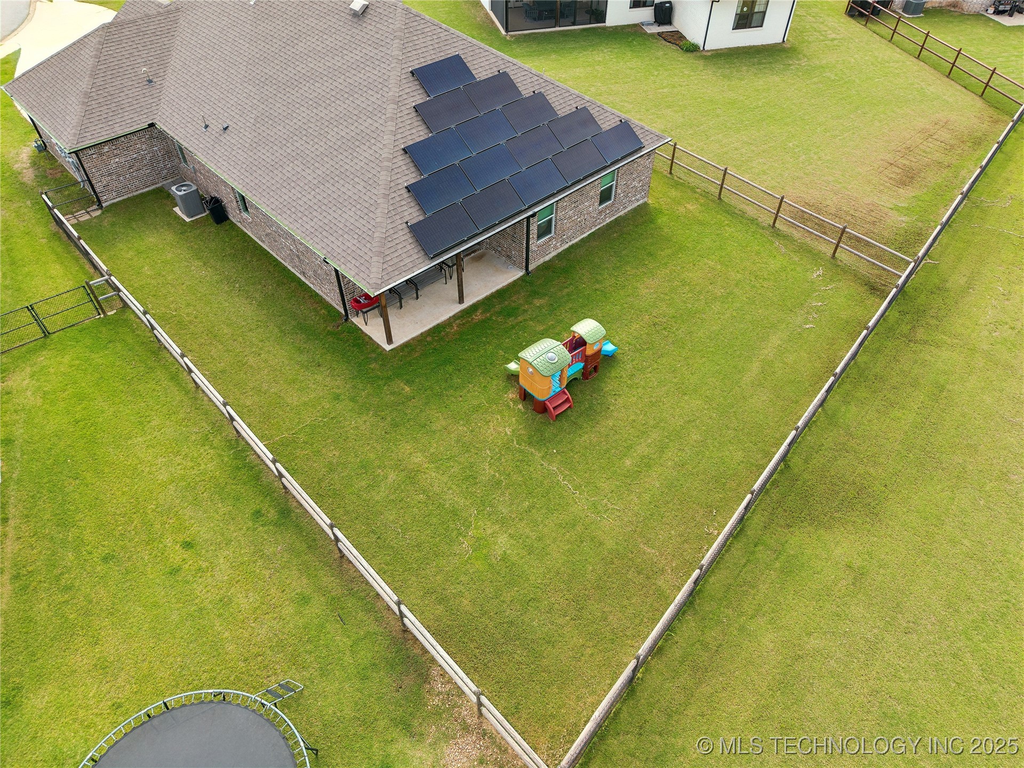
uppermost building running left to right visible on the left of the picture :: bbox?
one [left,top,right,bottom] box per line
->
[1,0,670,348]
